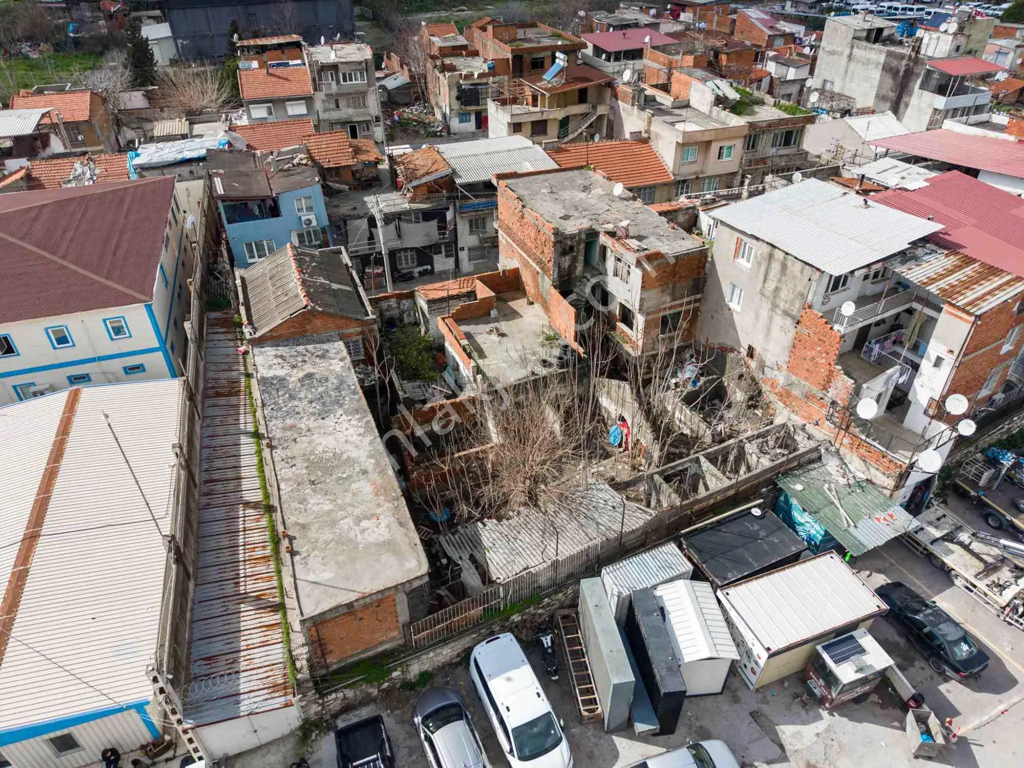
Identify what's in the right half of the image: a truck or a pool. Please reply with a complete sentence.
Visible in the right half of the image is a truck.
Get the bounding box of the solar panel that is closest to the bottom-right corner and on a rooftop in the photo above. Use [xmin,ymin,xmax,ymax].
[822,634,864,664]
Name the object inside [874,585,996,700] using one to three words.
car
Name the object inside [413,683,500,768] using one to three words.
car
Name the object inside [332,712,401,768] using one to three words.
truck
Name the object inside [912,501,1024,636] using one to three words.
truck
